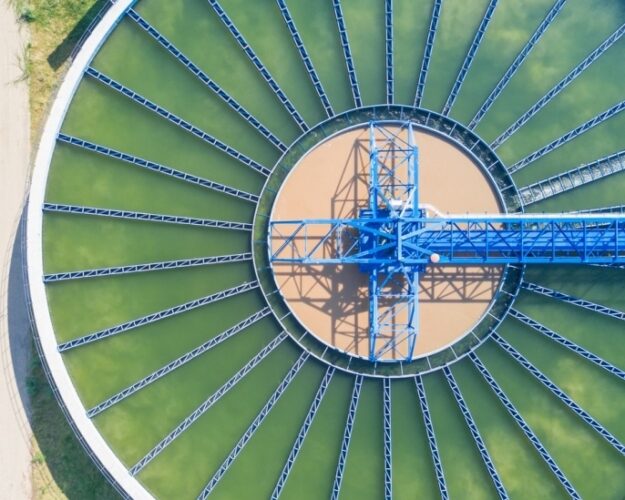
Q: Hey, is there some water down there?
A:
Yes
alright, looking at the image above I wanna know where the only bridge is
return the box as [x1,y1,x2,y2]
[267,118,625,364]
